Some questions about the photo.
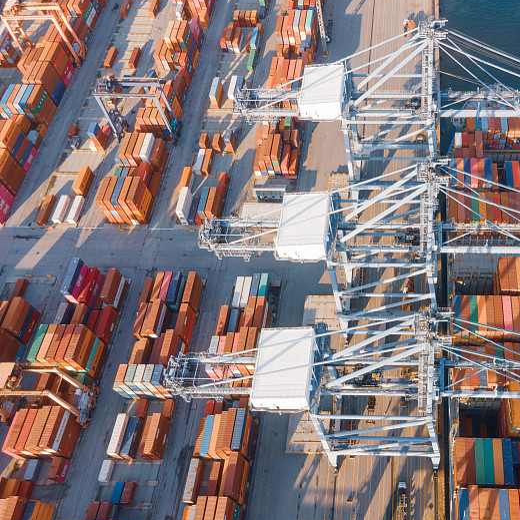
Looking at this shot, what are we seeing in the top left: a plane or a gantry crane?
gantry crane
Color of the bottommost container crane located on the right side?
white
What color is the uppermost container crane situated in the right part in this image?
white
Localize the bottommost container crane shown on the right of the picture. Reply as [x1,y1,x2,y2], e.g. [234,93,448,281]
[161,298,520,483]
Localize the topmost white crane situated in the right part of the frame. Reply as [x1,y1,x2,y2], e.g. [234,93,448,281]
[230,10,520,216]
